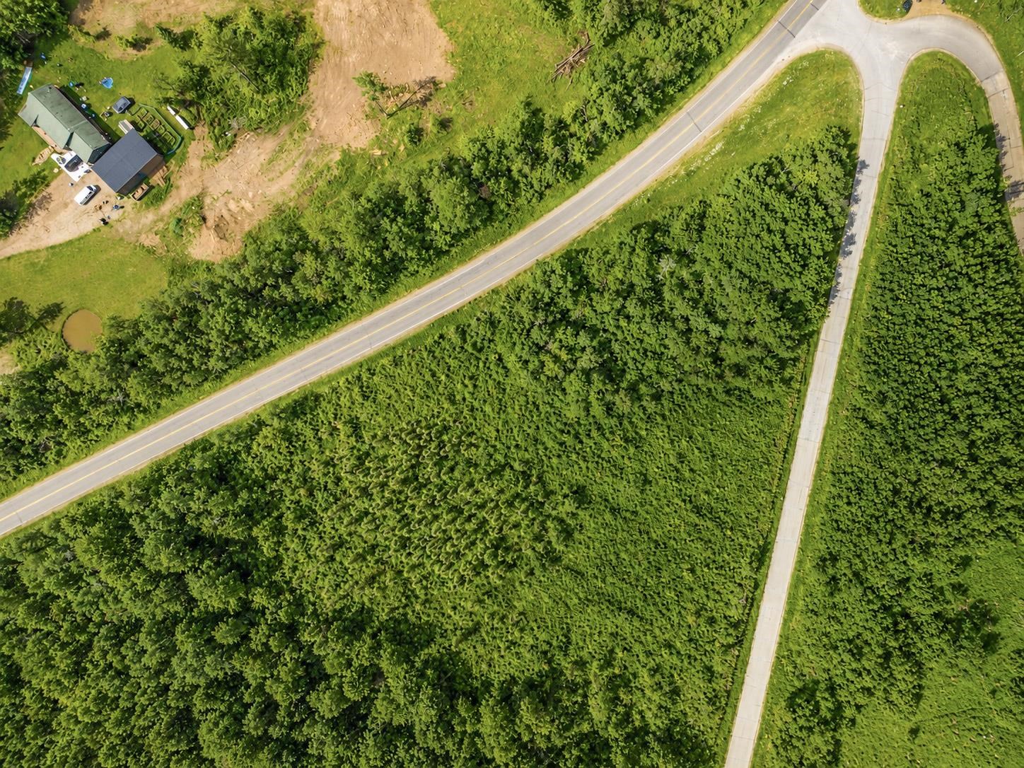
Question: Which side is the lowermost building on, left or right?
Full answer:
The lowermost building sits on the left side.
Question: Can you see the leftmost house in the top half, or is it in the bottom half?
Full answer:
The leftmost house is in the top half of the image.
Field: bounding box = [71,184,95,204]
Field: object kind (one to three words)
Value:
vehicle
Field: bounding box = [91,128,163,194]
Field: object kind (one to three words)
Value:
building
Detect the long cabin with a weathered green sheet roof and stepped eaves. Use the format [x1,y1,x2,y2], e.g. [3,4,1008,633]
[19,85,114,165]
